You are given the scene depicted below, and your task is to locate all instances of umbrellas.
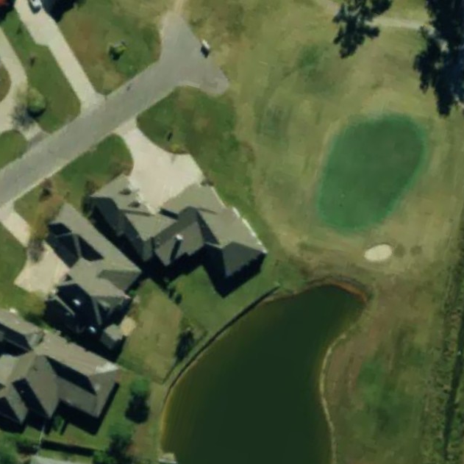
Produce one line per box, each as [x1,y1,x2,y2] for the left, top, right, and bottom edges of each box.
[121,317,136,333]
